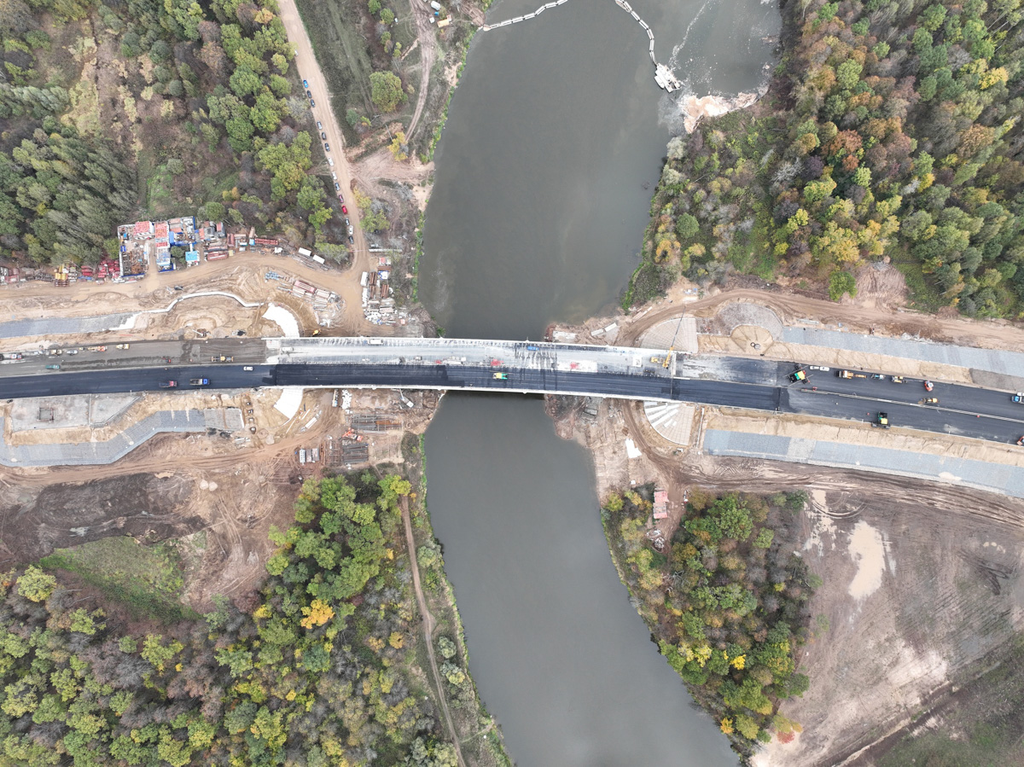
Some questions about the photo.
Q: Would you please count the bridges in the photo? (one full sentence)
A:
The picture shows just 1 bridge.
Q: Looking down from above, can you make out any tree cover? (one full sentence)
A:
Yes, tree cover can be seen from above here.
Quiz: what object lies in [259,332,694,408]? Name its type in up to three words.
bridge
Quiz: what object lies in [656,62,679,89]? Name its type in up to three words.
ship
